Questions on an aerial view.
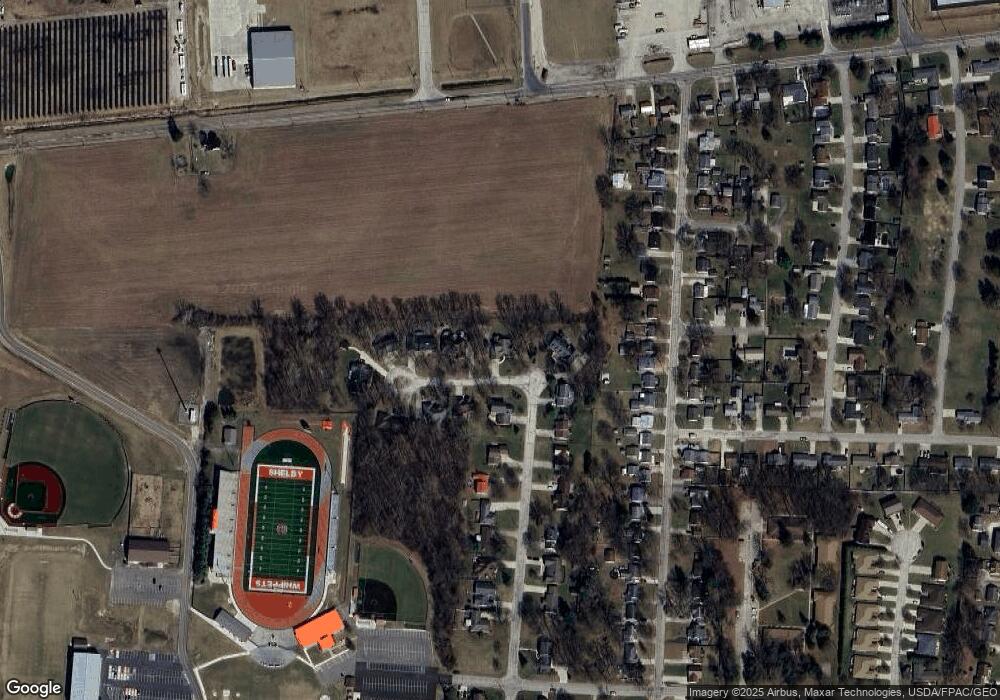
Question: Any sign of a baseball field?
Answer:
Yes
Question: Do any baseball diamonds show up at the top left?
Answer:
No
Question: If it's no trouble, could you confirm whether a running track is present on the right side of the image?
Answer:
No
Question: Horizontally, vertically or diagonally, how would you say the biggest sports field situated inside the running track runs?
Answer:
vertically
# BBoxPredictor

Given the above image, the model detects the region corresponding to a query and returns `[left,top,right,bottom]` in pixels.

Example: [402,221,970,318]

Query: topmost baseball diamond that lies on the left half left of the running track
[1,400,128,527]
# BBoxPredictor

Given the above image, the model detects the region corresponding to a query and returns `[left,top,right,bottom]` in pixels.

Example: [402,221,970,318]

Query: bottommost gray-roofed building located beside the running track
[213,607,255,642]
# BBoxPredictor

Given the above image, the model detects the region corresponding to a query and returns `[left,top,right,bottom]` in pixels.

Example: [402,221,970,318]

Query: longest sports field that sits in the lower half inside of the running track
[248,463,315,596]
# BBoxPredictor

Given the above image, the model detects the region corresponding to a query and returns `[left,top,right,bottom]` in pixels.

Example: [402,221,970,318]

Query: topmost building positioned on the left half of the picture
[251,30,294,87]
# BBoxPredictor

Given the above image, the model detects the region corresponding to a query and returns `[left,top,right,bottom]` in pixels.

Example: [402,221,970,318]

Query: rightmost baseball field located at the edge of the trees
[358,543,427,626]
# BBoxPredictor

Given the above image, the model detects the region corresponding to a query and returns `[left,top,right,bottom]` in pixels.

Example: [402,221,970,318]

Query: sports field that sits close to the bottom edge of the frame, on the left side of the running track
[11,545,96,700]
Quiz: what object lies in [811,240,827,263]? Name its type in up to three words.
house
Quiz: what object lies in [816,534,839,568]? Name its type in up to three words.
house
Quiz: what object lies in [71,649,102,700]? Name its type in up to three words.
building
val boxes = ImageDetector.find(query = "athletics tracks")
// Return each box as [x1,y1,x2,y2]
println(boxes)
[231,426,332,630]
